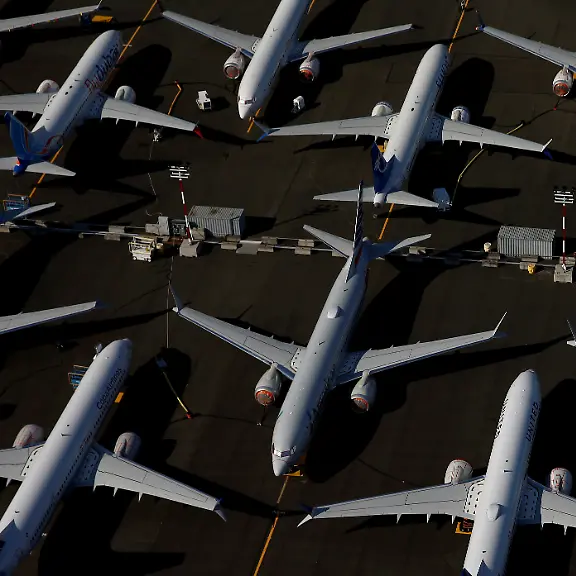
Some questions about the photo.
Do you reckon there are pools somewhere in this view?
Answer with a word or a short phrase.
No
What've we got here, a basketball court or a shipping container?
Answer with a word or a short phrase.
shipping container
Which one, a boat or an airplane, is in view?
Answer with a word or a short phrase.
airplane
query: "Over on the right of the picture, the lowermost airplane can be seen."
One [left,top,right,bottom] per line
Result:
[297,372,576,576]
